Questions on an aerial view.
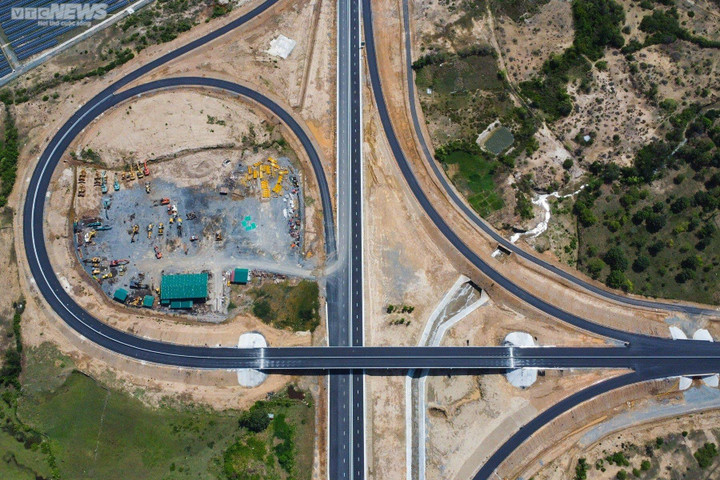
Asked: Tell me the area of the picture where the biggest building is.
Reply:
left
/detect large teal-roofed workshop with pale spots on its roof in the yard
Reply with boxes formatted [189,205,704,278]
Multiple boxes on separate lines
[160,273,210,300]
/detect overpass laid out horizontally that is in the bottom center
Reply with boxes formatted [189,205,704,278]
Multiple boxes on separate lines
[238,331,536,388]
